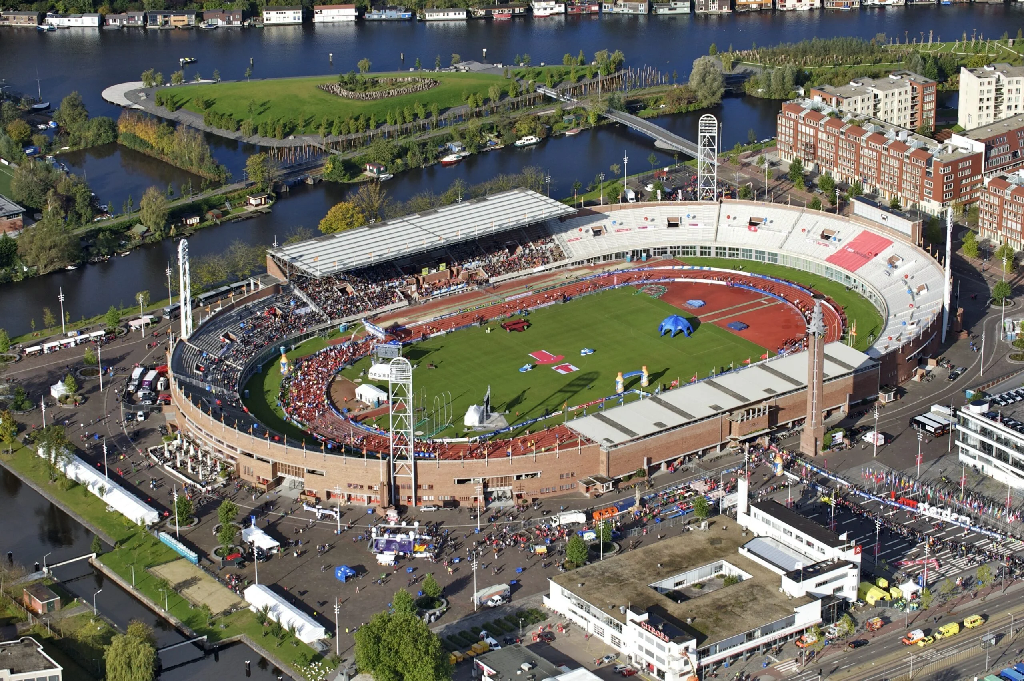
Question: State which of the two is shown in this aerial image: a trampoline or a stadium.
stadium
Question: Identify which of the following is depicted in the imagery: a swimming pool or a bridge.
bridge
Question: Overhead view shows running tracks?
Yes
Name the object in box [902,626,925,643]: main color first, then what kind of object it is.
white vehicle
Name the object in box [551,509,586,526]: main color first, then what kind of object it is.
white vehicle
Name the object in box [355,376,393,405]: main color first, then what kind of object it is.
white tent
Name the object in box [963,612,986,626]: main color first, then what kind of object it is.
yellow vehicle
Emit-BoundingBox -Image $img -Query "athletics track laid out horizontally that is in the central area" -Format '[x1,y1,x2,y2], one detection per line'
[293,269,838,454]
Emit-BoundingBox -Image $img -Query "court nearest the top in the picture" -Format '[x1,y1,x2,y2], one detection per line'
[634,162,707,199]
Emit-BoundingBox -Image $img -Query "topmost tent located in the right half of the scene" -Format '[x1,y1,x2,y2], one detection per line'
[657,309,695,336]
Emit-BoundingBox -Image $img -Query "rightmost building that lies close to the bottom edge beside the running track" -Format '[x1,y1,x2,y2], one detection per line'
[548,478,862,681]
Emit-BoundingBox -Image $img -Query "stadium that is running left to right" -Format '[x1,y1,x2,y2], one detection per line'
[168,188,946,510]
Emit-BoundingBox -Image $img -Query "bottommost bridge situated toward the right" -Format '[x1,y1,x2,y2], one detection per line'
[599,109,723,165]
